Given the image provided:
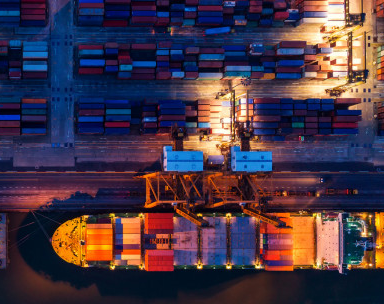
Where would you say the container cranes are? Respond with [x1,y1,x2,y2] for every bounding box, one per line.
[132,126,211,226]
[190,126,291,226]
[211,87,249,148]
[315,0,367,42]
[314,29,367,96]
